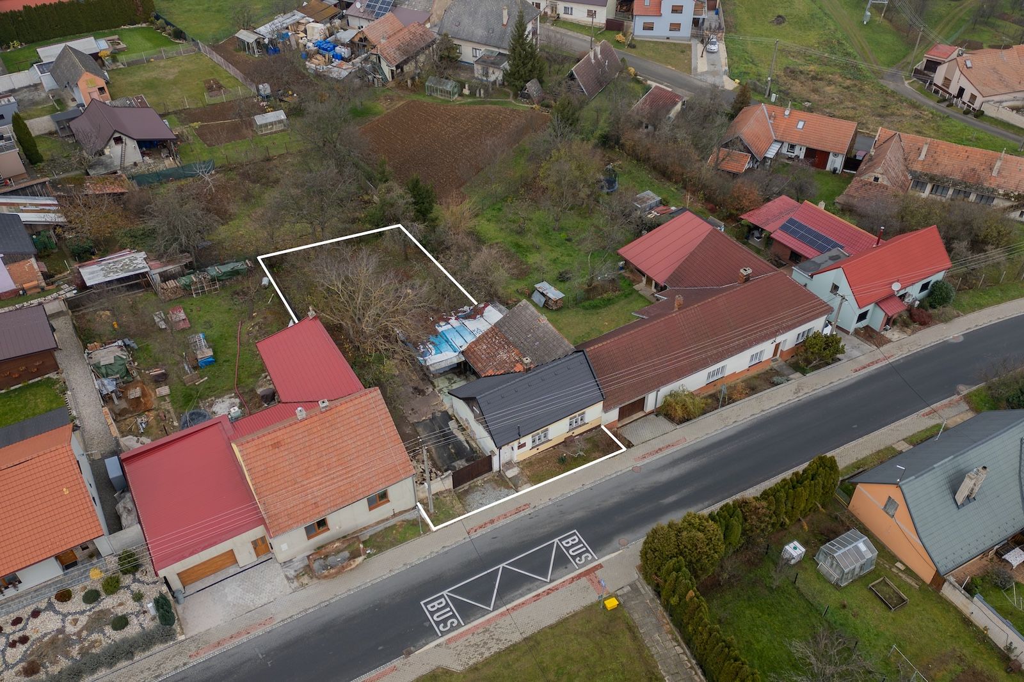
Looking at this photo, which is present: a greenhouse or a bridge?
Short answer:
greenhouse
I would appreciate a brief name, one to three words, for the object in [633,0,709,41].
house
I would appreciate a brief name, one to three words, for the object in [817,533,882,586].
greenhouse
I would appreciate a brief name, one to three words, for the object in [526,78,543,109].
shed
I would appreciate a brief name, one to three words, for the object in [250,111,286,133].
greenhouse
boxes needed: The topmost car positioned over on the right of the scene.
[707,36,720,49]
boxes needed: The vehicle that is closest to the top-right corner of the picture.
[856,144,871,159]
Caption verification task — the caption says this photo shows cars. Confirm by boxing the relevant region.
[707,36,720,49]
[856,144,871,159]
